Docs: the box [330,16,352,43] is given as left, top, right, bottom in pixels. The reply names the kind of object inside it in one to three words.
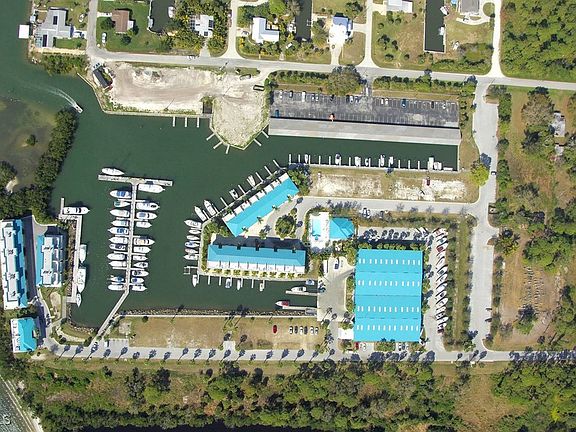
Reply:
house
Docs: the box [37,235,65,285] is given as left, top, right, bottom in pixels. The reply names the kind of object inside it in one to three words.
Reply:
building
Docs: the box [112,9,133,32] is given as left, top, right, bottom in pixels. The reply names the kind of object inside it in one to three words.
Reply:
house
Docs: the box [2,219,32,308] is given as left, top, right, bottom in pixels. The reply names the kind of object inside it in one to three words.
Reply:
building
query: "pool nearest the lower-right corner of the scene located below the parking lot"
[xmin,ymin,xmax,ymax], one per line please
[310,212,330,247]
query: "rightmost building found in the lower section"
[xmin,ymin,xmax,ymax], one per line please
[354,249,422,342]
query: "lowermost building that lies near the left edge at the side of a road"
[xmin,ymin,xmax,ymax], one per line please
[11,318,37,353]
